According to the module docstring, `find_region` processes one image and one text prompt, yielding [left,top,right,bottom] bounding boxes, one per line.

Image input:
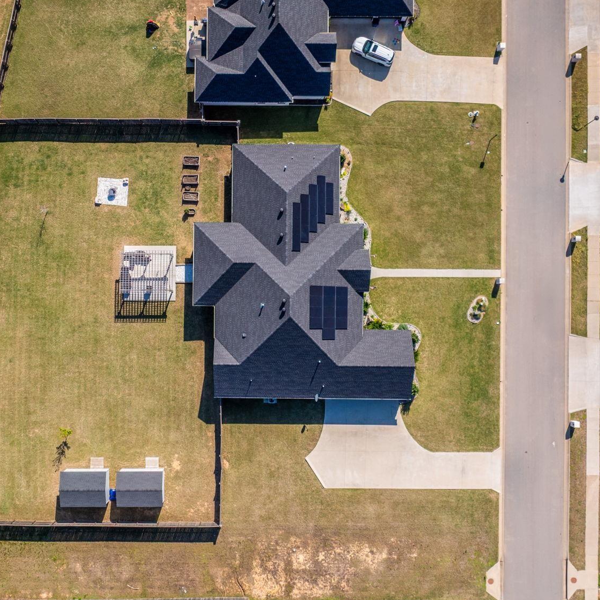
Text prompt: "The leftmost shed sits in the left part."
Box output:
[58,457,109,507]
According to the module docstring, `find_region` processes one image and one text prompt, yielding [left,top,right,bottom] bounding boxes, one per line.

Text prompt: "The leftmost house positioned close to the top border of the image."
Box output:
[194,0,415,105]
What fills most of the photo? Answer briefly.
grass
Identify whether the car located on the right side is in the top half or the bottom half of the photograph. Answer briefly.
top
